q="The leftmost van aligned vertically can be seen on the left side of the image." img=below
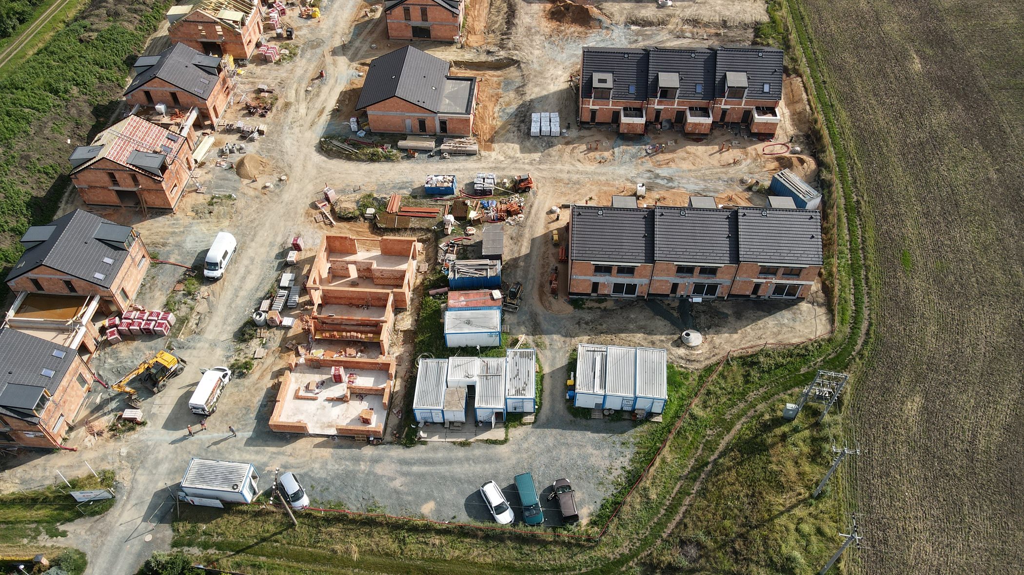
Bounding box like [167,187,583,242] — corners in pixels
[203,231,233,281]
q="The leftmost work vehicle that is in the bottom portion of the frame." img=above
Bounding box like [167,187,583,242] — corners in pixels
[112,353,187,411]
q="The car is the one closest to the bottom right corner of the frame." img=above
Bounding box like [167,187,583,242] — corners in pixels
[545,477,581,526]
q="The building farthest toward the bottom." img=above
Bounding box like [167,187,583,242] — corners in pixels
[180,458,266,506]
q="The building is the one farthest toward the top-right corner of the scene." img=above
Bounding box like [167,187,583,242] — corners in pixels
[709,41,787,135]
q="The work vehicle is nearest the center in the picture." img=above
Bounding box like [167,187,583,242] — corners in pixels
[502,280,524,311]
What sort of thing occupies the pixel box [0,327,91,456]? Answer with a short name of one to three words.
house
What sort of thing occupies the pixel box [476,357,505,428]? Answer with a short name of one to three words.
building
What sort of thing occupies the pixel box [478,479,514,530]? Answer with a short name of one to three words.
car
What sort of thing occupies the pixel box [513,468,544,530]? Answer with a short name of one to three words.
van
